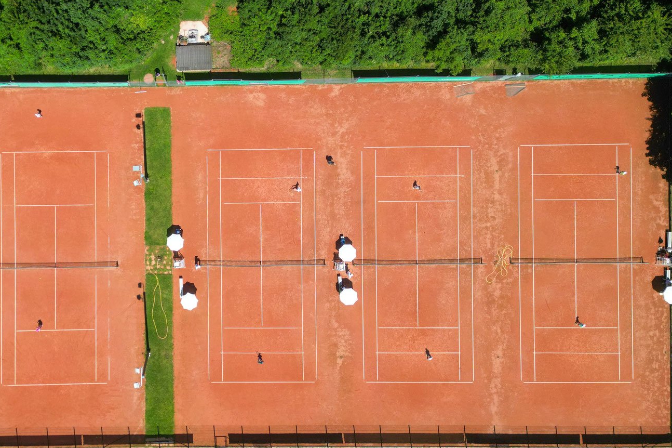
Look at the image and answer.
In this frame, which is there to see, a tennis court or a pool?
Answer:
tennis court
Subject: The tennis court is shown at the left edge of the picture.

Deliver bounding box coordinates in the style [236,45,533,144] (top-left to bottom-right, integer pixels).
[0,87,160,447]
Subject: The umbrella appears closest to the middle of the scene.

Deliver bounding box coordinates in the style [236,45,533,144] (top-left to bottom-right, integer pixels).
[339,245,355,261]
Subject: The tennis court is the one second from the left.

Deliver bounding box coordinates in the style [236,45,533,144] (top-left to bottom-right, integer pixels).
[159,85,341,447]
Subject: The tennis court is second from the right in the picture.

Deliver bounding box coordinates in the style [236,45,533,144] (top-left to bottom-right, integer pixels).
[340,83,496,446]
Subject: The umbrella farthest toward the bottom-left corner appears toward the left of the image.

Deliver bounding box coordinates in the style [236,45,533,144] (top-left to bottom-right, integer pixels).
[181,293,197,310]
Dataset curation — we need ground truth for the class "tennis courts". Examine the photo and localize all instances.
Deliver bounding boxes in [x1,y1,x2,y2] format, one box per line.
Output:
[340,83,496,446]
[0,87,160,447]
[159,85,341,447]
[496,81,672,446]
